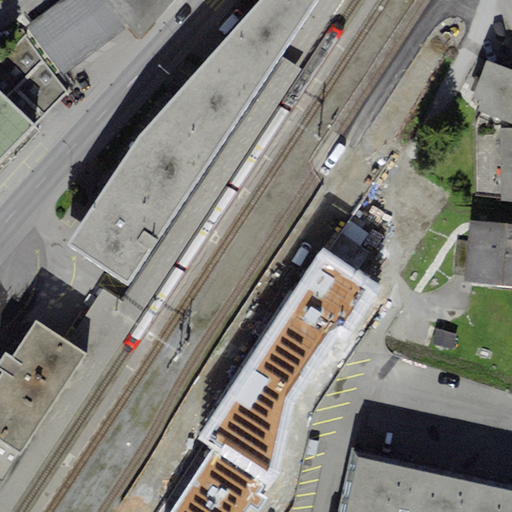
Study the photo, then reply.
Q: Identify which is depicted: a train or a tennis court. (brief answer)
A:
train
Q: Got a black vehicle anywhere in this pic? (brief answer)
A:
Yes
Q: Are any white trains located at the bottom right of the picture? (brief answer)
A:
No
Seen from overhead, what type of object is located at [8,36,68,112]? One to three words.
building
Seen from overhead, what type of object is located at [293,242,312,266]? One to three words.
vehicle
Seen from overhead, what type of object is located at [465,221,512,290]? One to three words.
house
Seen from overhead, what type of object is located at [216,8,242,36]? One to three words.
truck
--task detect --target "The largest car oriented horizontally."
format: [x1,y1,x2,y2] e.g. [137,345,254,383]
[439,374,460,386]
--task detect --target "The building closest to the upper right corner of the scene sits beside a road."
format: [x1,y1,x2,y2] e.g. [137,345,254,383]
[471,61,512,132]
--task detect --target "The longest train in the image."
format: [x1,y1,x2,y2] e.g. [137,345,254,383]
[128,24,343,344]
